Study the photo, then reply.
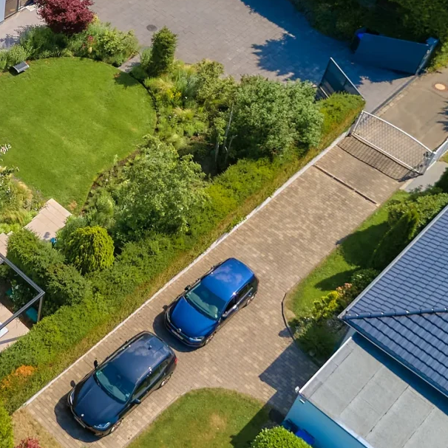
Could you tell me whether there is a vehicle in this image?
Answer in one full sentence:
Yes, there's a vehicle down there.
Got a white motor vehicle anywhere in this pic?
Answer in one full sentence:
No, this view has no white motor vehicle in it.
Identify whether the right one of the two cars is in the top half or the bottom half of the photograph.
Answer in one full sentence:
It is in the bottom half that the right one of the two cars appears.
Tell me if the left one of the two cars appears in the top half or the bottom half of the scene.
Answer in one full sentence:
It is in the bottom half that the left one of the two cars appears.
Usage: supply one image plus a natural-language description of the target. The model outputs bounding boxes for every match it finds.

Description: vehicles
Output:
[63,330,181,440]
[154,257,263,354]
